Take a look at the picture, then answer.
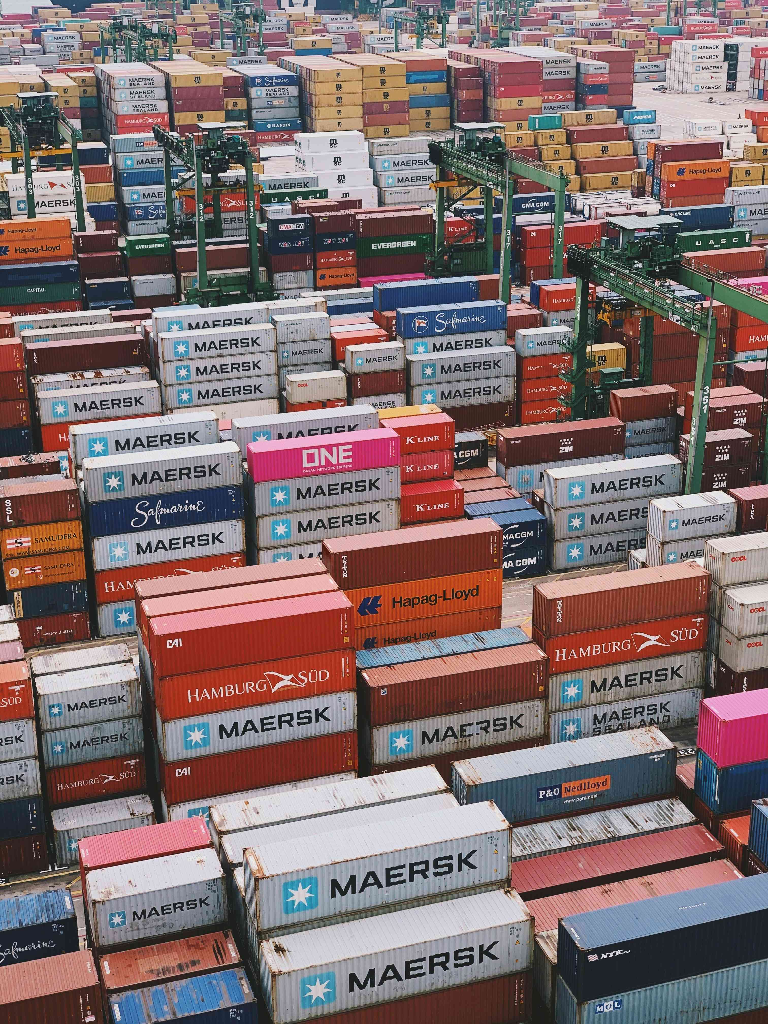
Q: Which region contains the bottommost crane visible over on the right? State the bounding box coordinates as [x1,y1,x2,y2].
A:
[543,214,768,494]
